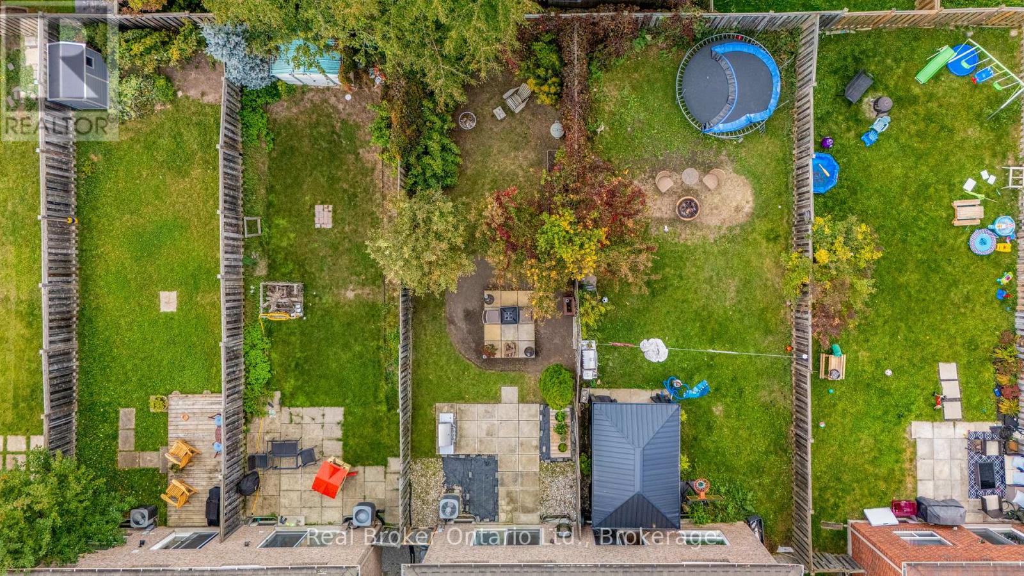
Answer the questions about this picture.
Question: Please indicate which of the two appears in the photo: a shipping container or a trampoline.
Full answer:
Looking from above, you can make out a trampoline.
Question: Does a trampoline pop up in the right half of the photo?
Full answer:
Yes, there is a trampoline in the right half of the photo.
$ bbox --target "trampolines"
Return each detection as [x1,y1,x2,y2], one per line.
[671,31,782,143]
